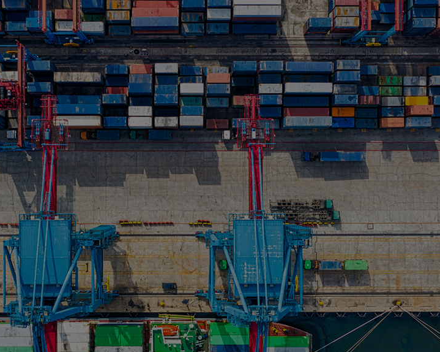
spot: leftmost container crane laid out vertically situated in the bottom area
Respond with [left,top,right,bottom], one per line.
[0,93,120,352]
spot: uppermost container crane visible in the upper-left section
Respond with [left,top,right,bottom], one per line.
[37,0,97,48]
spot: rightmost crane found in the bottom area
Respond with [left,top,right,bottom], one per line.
[196,93,319,352]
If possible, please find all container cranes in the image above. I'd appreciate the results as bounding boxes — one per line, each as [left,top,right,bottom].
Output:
[0,37,48,153]
[37,0,97,48]
[337,0,405,48]
[196,93,319,352]
[0,93,120,352]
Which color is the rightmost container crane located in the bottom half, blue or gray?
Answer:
blue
